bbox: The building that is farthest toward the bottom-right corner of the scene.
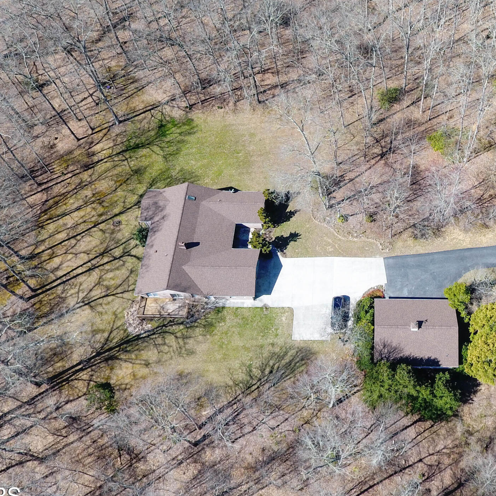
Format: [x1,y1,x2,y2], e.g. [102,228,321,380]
[374,298,459,366]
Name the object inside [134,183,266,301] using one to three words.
house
